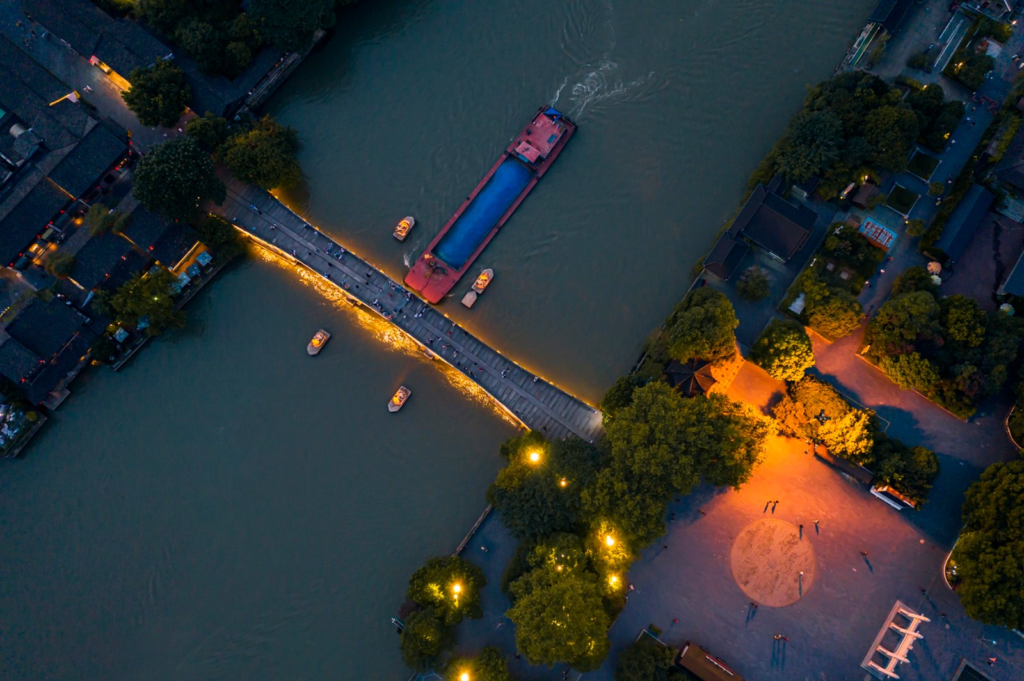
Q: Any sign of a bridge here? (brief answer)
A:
Yes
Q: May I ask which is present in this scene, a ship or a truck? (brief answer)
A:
ship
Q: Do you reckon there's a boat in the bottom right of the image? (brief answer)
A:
No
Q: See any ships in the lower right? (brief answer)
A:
No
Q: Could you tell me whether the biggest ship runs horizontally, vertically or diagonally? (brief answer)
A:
diagonally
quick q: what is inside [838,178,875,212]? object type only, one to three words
building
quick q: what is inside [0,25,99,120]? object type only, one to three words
house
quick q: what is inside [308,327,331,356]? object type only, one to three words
boat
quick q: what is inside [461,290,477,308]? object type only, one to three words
boat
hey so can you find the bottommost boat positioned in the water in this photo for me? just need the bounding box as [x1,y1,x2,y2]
[389,383,412,412]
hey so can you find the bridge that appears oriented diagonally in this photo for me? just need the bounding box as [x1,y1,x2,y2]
[208,167,609,465]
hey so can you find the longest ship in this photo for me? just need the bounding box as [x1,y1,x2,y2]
[407,105,577,301]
